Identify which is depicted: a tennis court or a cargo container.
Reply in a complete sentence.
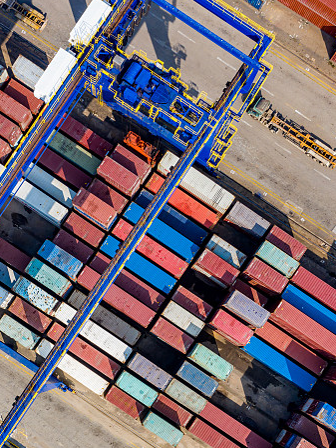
Looking from above, you can make out a cargo container.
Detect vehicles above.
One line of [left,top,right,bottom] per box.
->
[249,94,336,169]
[0,0,47,36]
